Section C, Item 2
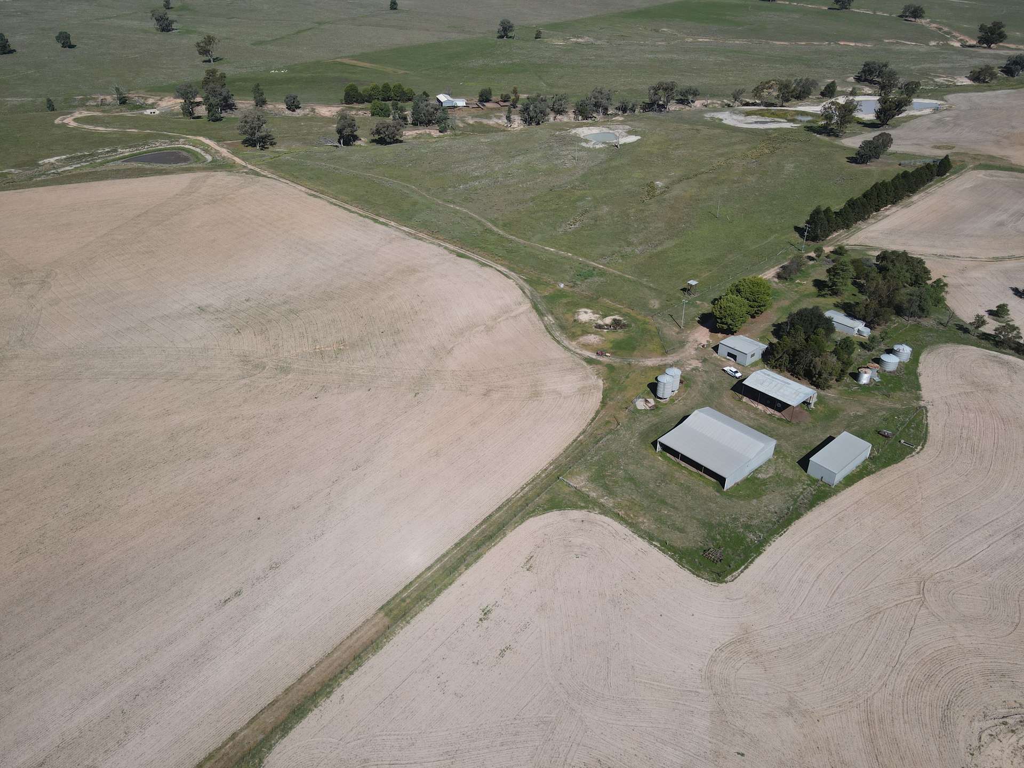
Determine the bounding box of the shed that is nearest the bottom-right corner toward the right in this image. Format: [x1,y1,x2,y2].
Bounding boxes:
[806,429,874,487]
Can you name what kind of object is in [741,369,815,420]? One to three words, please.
shed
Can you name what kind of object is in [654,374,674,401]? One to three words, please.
silo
